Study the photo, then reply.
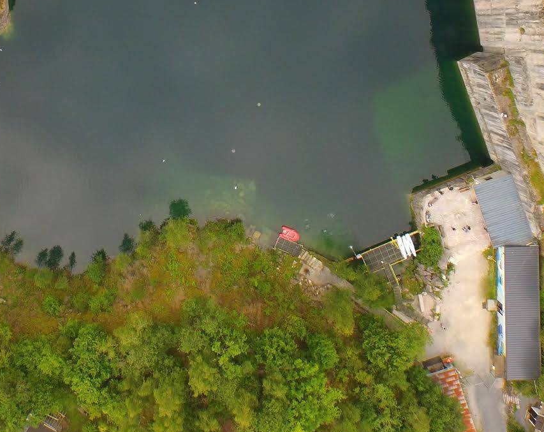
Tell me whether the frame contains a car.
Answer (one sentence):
No, no car can be seen from above.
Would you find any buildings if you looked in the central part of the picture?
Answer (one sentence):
No, no building is visible in the central part of the picture.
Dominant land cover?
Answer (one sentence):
What you mostly see from above here is water.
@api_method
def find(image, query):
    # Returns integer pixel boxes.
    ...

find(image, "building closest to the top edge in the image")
[466,166,532,249]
